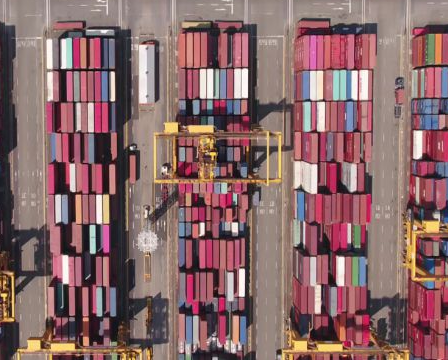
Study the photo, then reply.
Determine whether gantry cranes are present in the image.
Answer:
Yes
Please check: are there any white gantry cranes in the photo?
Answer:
No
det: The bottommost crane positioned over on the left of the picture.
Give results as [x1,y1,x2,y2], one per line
[19,318,142,360]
